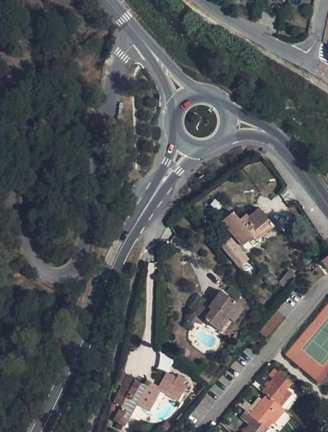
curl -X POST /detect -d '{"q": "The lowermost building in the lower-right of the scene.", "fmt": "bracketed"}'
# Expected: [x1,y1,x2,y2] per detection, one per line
[240,396,290,432]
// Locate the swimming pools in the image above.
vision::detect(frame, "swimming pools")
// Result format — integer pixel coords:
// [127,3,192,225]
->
[196,330,216,348]
[156,404,176,420]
